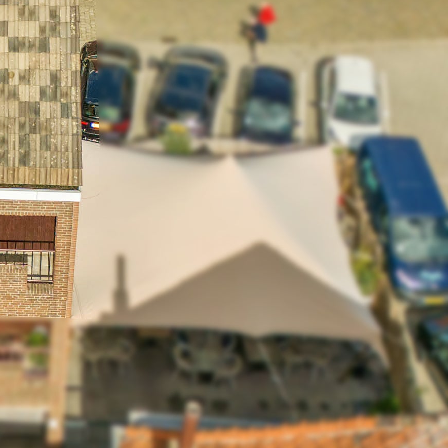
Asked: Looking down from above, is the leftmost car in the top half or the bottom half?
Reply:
top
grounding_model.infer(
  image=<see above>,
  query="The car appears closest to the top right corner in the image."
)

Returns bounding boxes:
[312,58,394,148]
